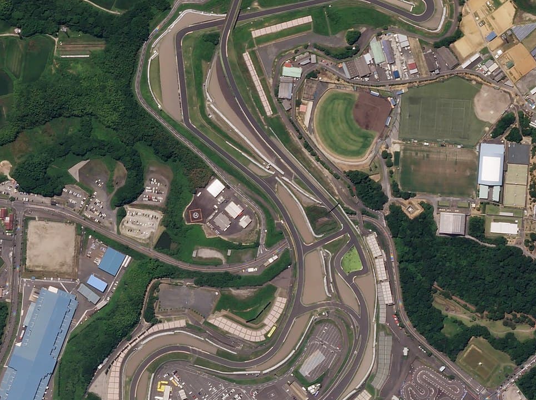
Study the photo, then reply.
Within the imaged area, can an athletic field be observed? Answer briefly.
Yes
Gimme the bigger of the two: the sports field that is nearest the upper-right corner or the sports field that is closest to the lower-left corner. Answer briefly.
the sports field that is closest to the lower-left corner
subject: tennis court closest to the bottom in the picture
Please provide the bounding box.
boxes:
[505,185,527,206]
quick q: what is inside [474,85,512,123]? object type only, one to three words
sports field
